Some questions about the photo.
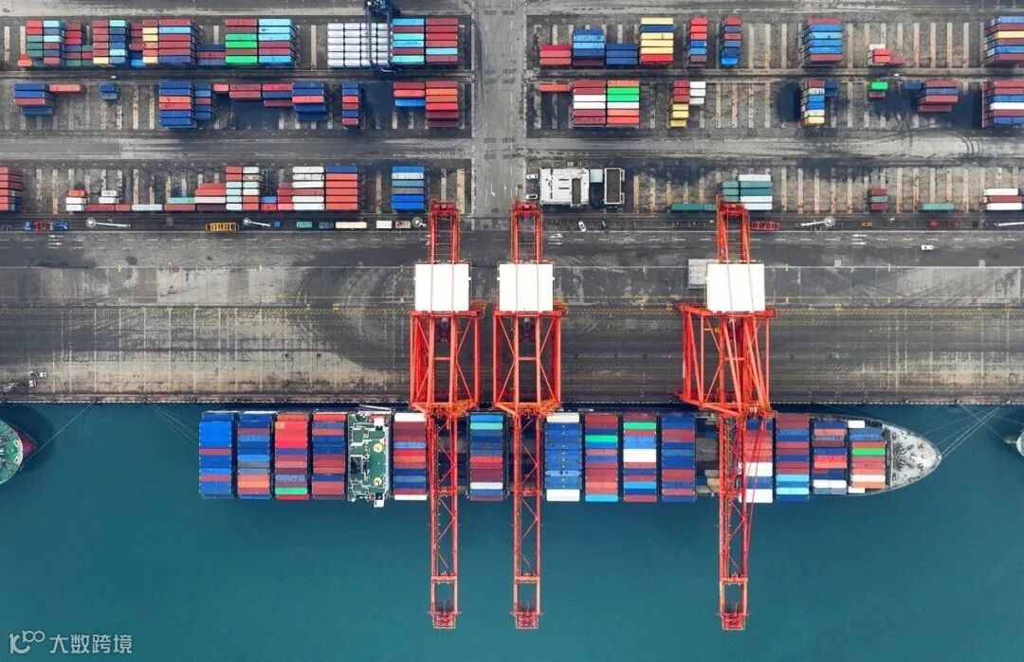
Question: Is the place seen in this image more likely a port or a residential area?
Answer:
port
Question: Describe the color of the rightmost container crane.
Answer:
red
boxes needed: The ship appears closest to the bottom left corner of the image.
[0,419,42,483]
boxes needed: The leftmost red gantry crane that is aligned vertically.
[410,198,490,628]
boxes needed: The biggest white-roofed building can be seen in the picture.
[540,162,589,204]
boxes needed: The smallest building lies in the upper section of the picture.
[603,168,624,205]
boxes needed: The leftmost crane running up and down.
[366,0,402,78]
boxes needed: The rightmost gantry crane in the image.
[673,198,773,628]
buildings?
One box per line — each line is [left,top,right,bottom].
[603,168,624,205]
[540,162,589,204]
